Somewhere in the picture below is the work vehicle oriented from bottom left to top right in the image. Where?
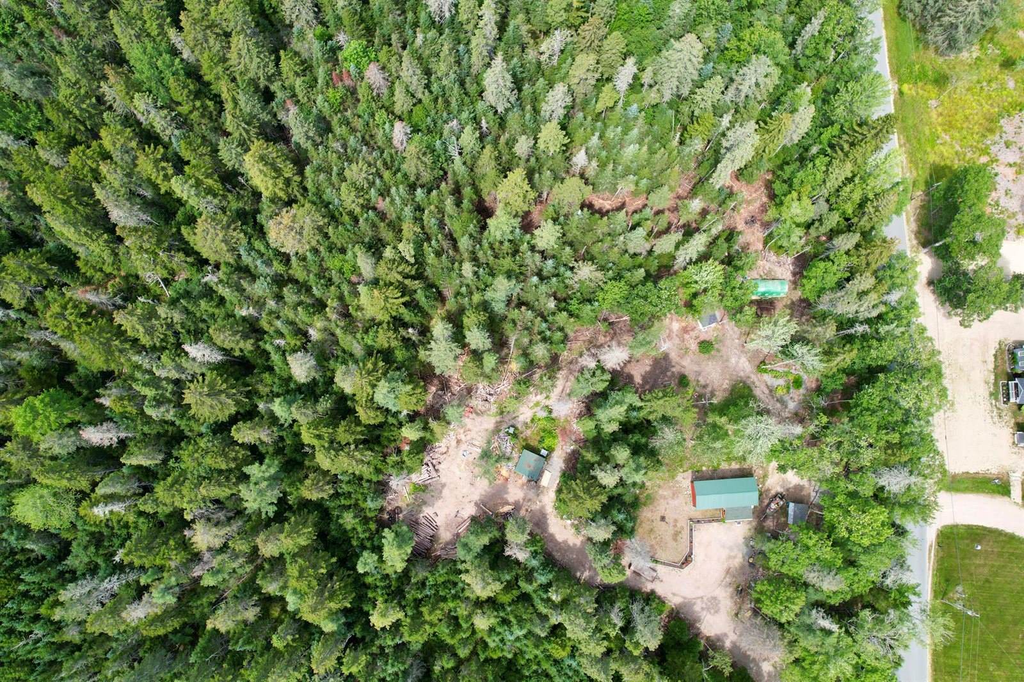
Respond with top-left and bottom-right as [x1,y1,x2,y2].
[756,490,791,521]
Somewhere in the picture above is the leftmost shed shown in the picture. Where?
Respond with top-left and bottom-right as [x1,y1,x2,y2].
[515,449,545,480]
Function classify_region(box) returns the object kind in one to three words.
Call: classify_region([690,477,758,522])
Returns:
building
